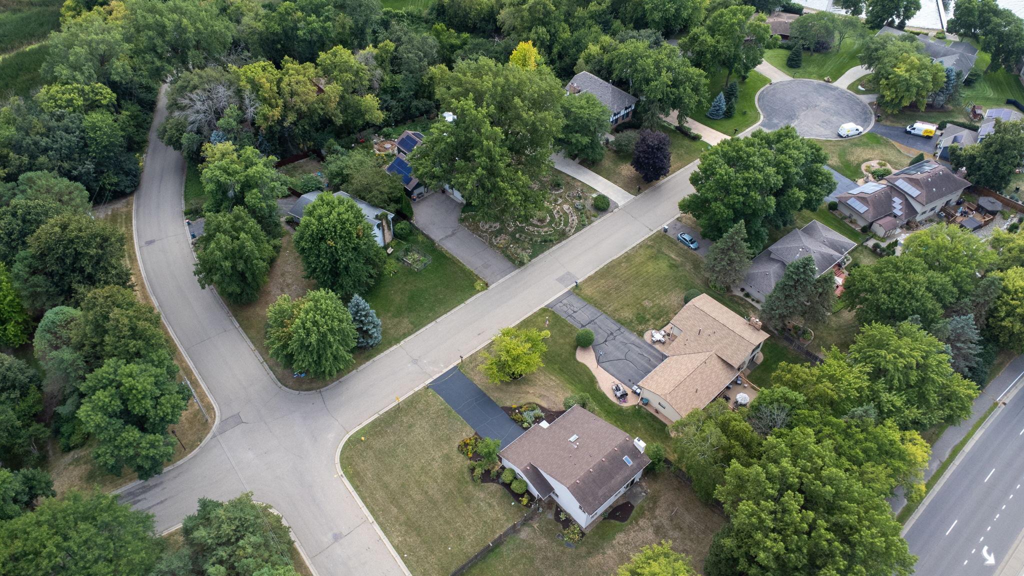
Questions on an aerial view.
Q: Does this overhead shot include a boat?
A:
No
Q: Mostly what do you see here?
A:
trees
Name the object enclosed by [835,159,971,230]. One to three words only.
house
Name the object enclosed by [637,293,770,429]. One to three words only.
house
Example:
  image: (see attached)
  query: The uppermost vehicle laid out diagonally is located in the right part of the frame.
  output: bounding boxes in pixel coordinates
[677,233,701,250]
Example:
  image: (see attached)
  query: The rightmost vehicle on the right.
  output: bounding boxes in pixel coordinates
[905,122,937,139]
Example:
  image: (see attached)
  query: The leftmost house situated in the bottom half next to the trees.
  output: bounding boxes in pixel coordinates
[498,405,652,528]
